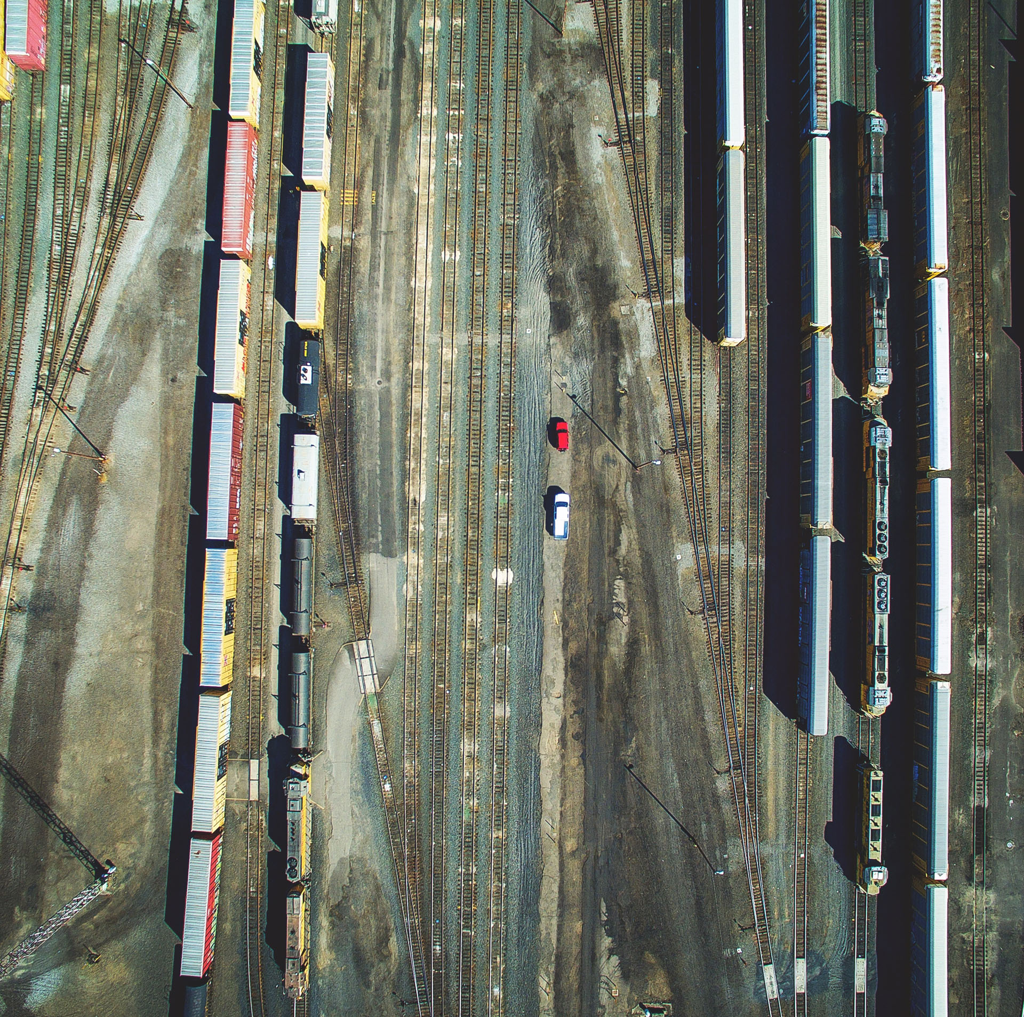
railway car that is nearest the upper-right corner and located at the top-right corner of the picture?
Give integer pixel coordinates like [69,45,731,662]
[851,101,886,254]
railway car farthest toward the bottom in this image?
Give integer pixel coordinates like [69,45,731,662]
[180,970,214,1017]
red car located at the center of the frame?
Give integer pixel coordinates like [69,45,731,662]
[555,422,570,454]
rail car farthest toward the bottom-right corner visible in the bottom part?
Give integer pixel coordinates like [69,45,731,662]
[852,759,886,904]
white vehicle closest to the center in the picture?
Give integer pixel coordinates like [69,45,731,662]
[553,493,570,539]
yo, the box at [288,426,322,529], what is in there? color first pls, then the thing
white rail car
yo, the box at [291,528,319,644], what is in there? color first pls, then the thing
gray rail car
